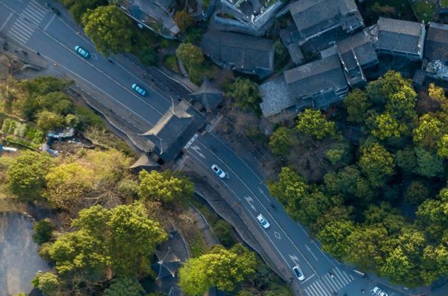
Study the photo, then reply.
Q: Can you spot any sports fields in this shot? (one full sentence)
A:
No, the frame has no sports field in it.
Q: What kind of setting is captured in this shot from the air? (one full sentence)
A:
It's a residential area.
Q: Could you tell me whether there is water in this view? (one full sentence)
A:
No, the scene doesn't show any water.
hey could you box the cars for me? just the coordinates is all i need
[256,213,270,228]
[373,286,389,296]
[131,82,147,96]
[292,265,304,281]
[211,163,227,178]
[74,44,88,58]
